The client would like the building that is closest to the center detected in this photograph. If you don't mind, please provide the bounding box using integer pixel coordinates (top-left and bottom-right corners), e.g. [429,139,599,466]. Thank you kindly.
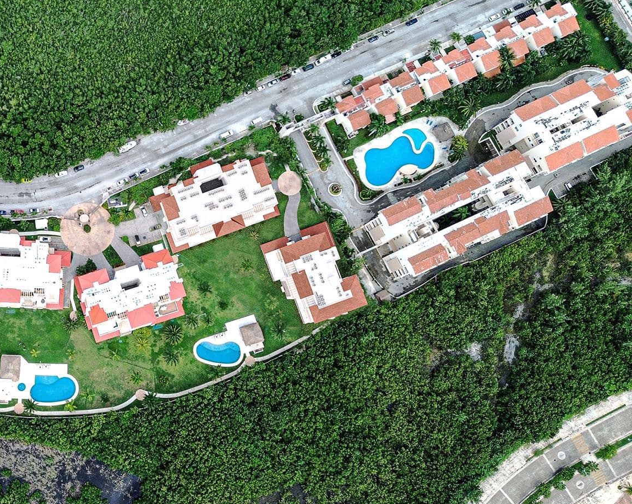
[257,221,368,323]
